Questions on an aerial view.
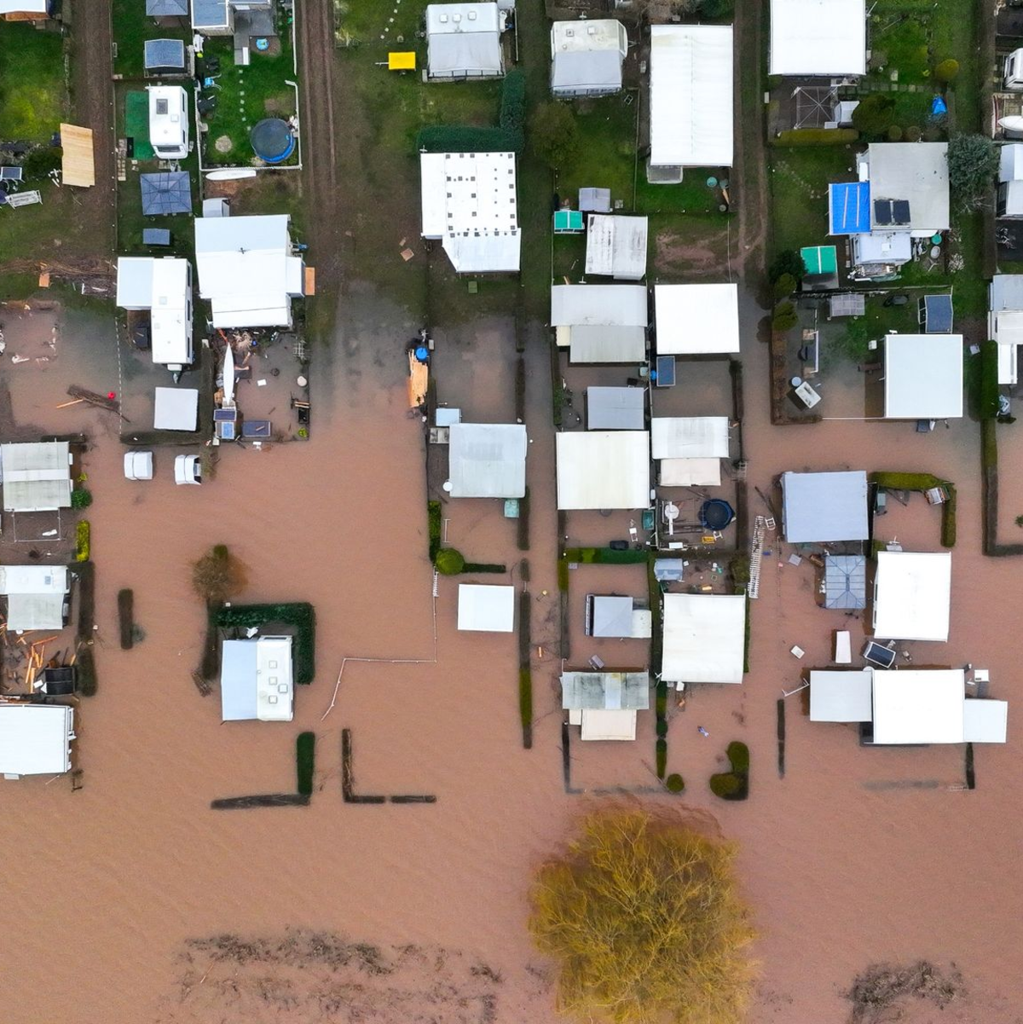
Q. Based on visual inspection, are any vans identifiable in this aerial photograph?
Yes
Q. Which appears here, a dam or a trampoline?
trampoline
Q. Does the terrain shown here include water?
Yes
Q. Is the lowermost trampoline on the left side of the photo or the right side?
right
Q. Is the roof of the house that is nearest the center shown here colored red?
No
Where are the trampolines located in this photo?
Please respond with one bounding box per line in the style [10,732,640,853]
[250,118,296,163]
[699,496,737,532]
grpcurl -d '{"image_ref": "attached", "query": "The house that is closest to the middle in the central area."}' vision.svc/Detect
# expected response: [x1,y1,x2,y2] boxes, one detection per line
[448,424,526,497]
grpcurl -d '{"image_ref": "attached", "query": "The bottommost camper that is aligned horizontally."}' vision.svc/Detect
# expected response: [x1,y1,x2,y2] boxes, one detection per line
[0,564,80,595]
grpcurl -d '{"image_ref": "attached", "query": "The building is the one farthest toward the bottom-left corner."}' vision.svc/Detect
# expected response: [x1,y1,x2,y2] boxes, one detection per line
[0,704,76,774]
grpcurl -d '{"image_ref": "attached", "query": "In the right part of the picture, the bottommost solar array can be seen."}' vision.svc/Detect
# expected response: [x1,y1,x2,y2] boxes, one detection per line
[657,356,675,386]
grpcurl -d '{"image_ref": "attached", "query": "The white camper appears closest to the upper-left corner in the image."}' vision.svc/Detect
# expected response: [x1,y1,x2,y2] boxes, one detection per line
[150,87,191,171]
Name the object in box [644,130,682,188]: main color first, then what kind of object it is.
gray camper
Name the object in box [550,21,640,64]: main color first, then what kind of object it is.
white camper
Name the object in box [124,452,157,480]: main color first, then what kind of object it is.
white van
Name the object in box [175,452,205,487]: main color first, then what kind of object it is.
white van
